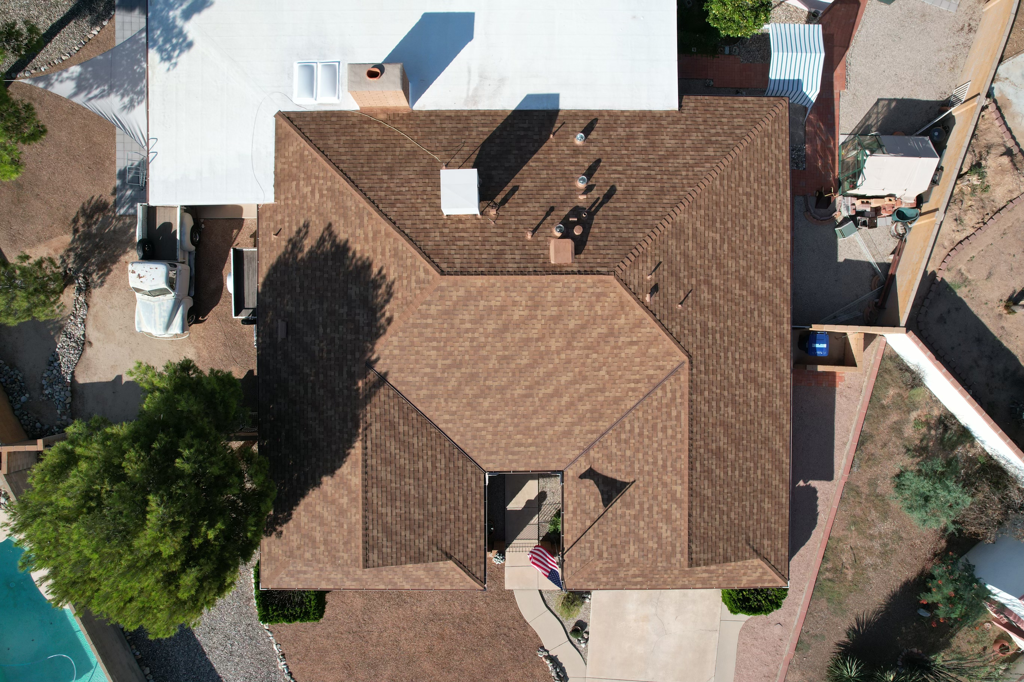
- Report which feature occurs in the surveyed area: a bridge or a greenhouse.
greenhouse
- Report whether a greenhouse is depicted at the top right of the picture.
Yes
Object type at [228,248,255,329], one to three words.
trailer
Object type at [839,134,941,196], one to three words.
greenhouse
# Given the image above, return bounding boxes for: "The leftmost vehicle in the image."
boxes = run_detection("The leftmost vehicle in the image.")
[127,203,204,345]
